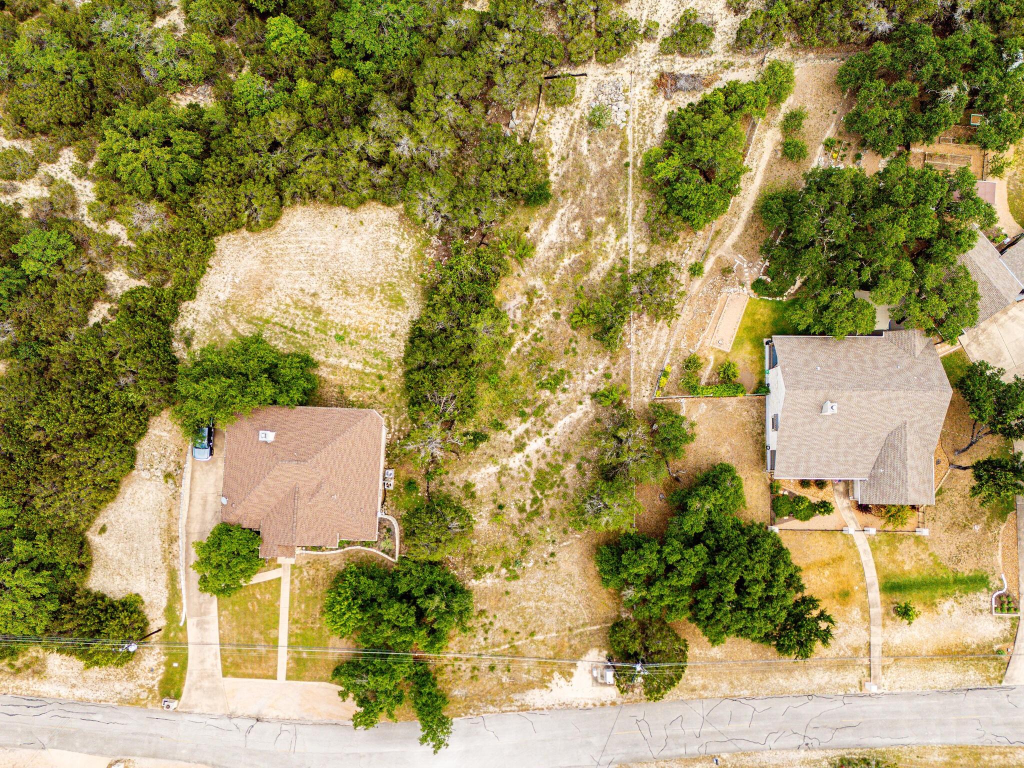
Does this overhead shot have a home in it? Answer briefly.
Yes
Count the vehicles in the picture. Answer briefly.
1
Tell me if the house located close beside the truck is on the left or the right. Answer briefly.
left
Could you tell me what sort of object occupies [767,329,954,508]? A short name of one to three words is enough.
house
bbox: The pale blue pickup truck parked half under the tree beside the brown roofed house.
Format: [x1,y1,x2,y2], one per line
[191,429,216,461]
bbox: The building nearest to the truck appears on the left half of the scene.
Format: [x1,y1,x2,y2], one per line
[220,405,386,558]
